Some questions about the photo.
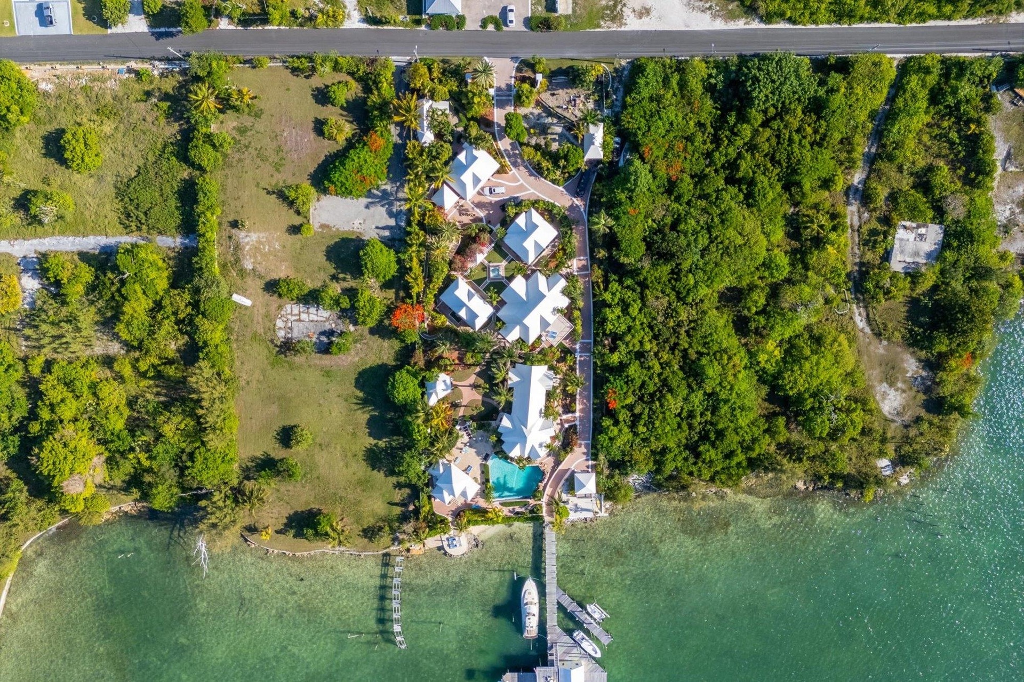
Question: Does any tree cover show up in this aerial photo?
Yes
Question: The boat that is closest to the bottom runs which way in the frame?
on a diagonal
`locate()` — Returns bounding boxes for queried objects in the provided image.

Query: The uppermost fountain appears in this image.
[487,263,505,281]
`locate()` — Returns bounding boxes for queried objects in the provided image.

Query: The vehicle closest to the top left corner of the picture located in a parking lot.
[43,2,58,27]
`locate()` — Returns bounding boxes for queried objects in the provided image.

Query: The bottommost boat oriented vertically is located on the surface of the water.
[522,578,539,638]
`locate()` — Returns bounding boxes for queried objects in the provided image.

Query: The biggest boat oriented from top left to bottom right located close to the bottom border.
[574,632,601,659]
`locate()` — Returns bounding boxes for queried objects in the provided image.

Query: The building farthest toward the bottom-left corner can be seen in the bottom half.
[431,460,480,506]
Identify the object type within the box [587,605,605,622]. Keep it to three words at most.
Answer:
boat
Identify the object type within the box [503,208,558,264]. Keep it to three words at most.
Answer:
house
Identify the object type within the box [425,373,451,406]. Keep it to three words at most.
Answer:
building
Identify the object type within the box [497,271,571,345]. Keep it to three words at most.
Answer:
house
